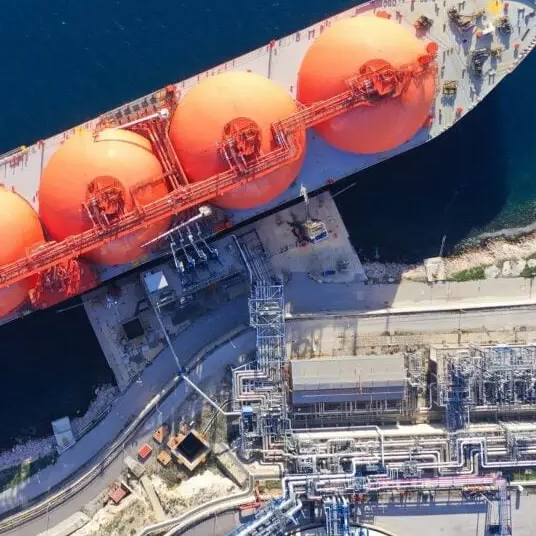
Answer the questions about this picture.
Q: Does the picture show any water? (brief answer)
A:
Yes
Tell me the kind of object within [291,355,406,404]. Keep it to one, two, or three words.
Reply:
building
